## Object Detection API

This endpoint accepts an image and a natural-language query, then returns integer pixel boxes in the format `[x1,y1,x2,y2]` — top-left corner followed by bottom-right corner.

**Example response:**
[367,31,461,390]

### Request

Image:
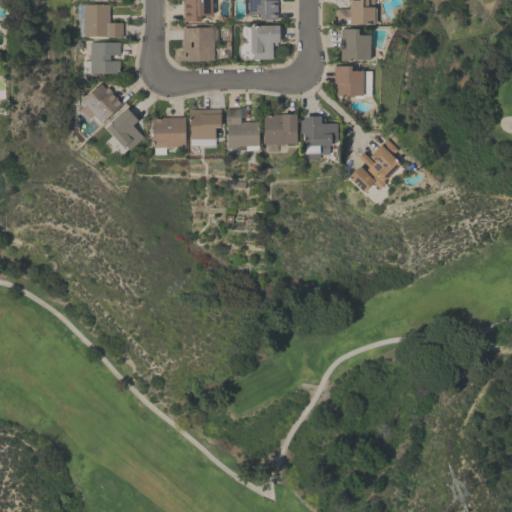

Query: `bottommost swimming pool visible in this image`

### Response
[402,174,424,186]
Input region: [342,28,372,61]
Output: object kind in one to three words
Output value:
house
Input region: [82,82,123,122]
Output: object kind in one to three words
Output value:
house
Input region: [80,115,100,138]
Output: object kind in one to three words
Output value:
swimming pool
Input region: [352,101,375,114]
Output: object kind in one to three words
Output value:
swimming pool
